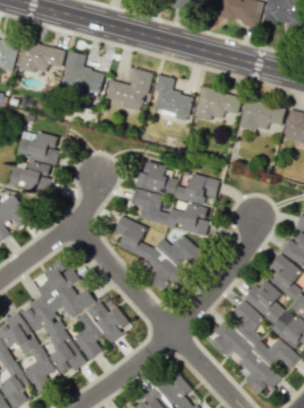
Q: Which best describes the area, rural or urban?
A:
urban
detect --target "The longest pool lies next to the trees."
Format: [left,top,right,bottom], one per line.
[22,77,44,90]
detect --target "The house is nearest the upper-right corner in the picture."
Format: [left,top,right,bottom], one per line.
[262,0,301,30]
